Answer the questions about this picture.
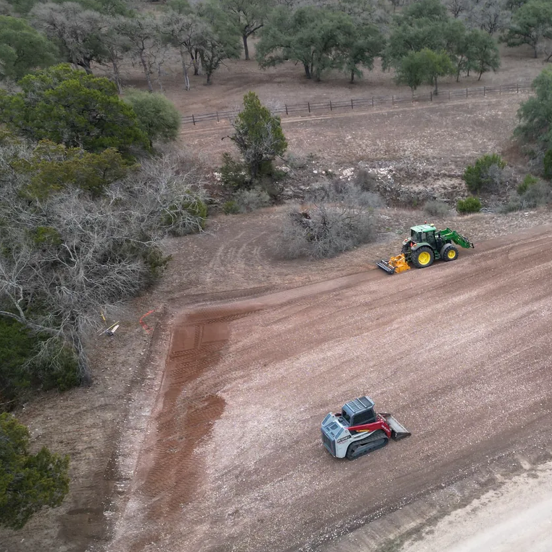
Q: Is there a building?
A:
No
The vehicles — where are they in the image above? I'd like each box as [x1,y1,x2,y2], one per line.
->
[399,222,470,269]
[318,393,409,460]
